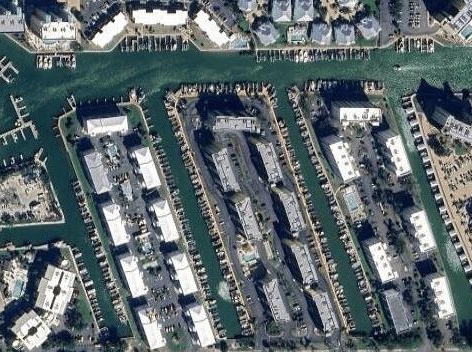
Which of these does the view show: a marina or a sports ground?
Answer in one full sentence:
This looks like a marina.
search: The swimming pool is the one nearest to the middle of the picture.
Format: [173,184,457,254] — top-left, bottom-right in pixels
[239,252,260,265]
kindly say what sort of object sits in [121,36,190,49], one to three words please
pier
